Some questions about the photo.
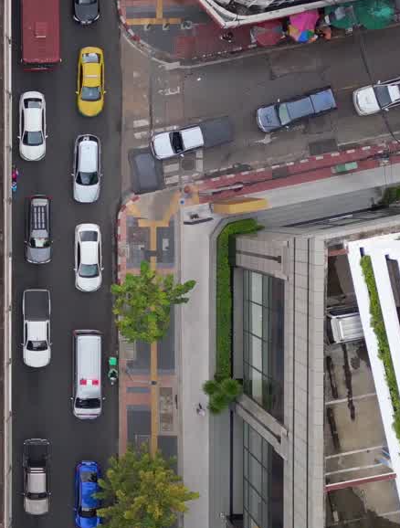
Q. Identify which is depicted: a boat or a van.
van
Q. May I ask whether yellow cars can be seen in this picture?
Yes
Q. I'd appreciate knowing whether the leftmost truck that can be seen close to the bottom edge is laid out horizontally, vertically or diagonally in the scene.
vertically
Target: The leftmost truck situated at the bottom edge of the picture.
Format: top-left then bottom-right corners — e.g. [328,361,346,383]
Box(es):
[21,437,53,512]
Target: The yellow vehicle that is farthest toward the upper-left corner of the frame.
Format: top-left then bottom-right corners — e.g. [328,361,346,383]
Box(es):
[77,47,107,117]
